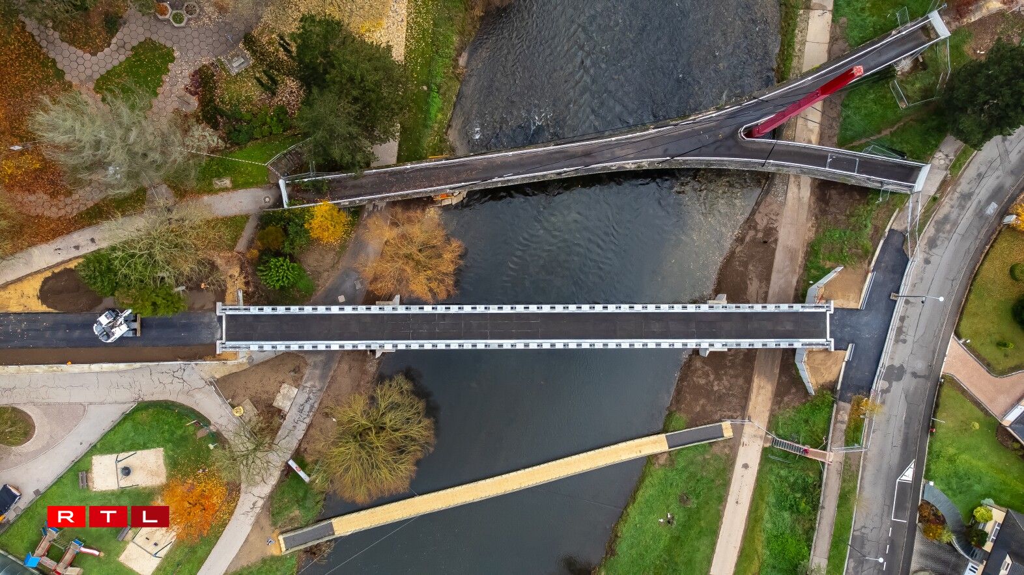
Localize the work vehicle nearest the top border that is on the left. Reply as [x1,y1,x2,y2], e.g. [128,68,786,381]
[96,308,141,342]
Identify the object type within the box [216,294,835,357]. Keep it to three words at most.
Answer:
bridge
